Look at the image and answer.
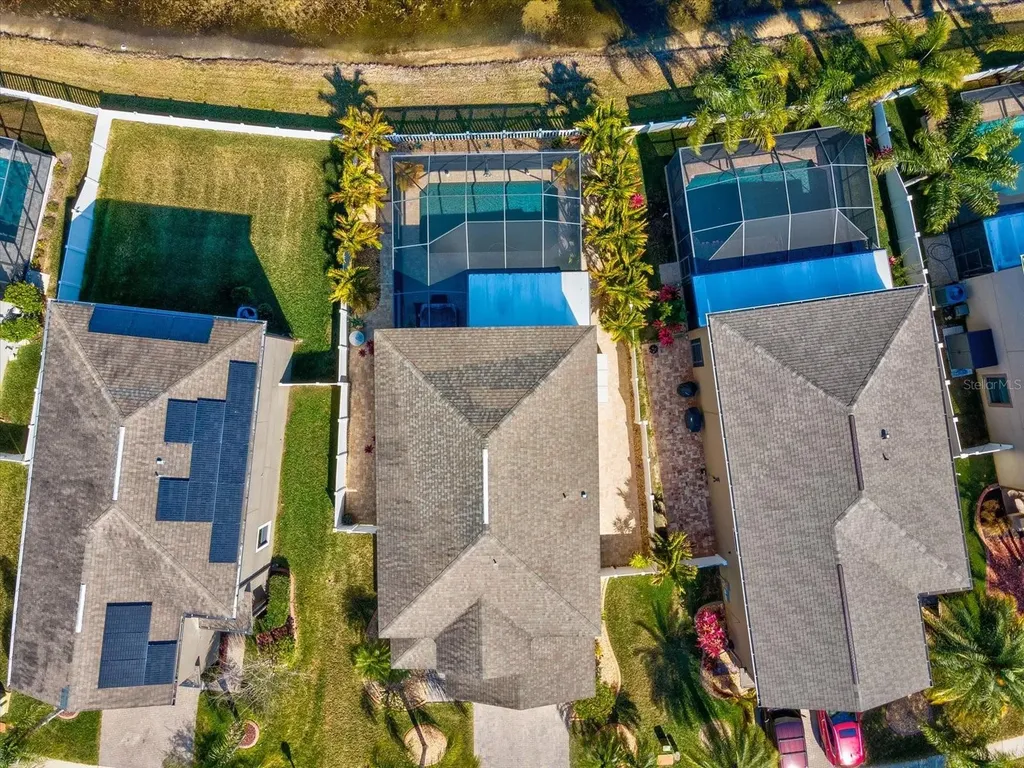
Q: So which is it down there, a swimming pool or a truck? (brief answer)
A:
swimming pool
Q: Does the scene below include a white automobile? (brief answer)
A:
No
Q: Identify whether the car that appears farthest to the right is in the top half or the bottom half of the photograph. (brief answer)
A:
bottom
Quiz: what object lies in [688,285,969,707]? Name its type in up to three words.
house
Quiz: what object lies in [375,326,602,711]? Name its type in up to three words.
house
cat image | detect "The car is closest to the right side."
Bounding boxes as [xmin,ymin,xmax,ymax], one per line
[815,706,859,767]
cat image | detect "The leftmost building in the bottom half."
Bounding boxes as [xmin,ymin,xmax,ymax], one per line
[8,300,293,710]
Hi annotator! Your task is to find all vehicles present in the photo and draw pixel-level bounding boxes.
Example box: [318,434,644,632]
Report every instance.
[815,706,859,767]
[765,704,808,768]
